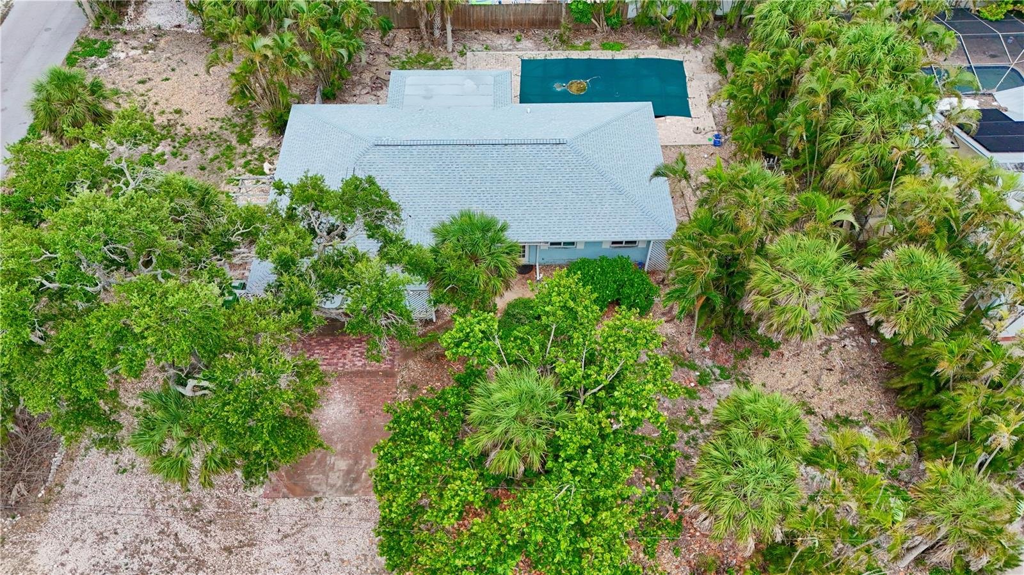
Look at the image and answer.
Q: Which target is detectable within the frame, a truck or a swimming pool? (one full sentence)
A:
Of the two, only a swimming pool appears.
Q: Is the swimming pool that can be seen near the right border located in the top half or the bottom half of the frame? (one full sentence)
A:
It is in the top half that the swimming pool that can be seen near the right border appears.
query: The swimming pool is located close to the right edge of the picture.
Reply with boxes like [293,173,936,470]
[913,64,1024,97]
